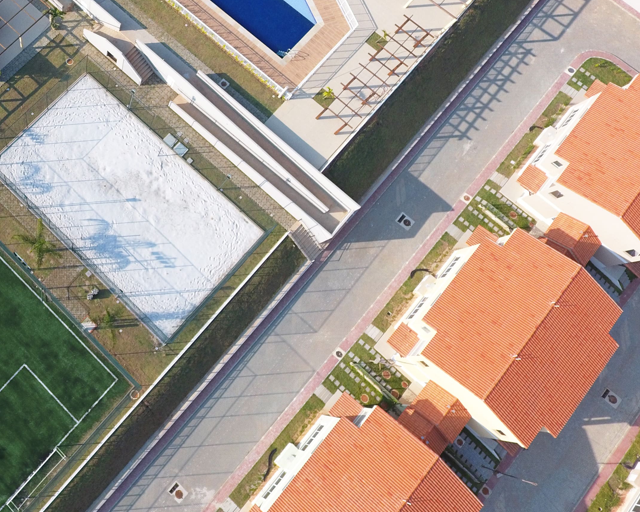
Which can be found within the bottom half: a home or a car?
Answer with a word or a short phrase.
home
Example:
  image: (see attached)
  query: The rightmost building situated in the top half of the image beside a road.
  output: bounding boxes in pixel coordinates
[495,70,640,286]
